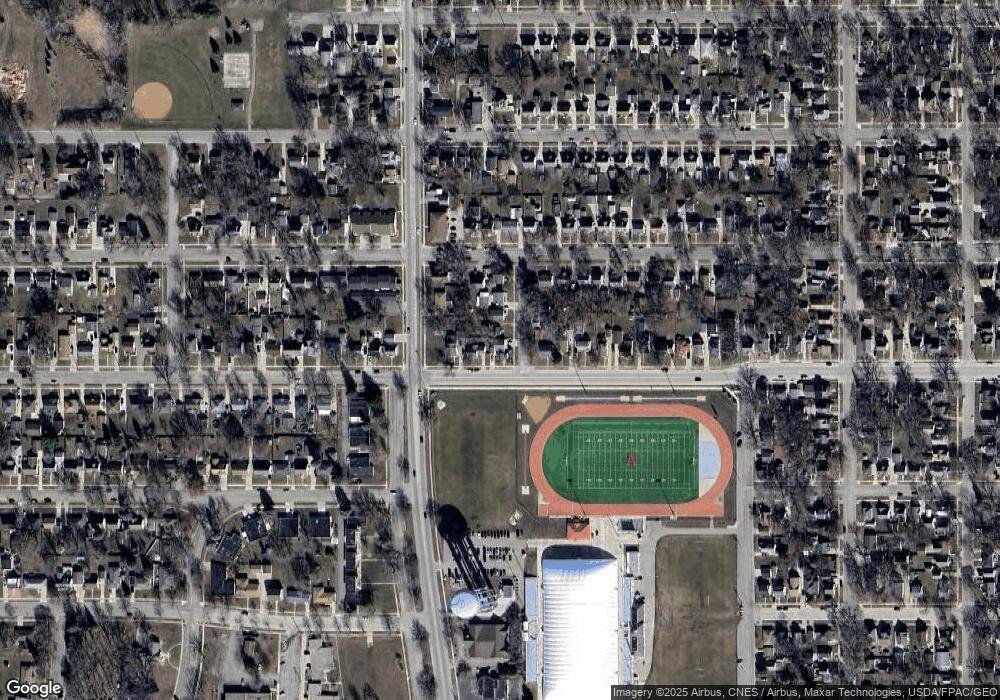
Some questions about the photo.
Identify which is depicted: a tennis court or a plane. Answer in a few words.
tennis court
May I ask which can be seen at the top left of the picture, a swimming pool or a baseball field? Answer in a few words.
baseball field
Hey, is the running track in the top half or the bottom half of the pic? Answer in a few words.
bottom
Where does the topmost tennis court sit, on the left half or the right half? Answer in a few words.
left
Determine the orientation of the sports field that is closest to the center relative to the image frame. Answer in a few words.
from left to right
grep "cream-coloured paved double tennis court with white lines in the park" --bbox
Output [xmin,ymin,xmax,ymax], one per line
[225,53,250,88]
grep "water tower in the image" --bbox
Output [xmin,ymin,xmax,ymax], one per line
[450,583,501,621]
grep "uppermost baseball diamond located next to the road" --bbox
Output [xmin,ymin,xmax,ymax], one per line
[129,38,216,125]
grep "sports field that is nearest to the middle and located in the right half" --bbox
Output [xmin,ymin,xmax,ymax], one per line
[542,419,720,499]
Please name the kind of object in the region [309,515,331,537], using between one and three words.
building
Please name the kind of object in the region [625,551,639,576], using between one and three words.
building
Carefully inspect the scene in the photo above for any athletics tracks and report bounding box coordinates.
[527,404,734,516]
